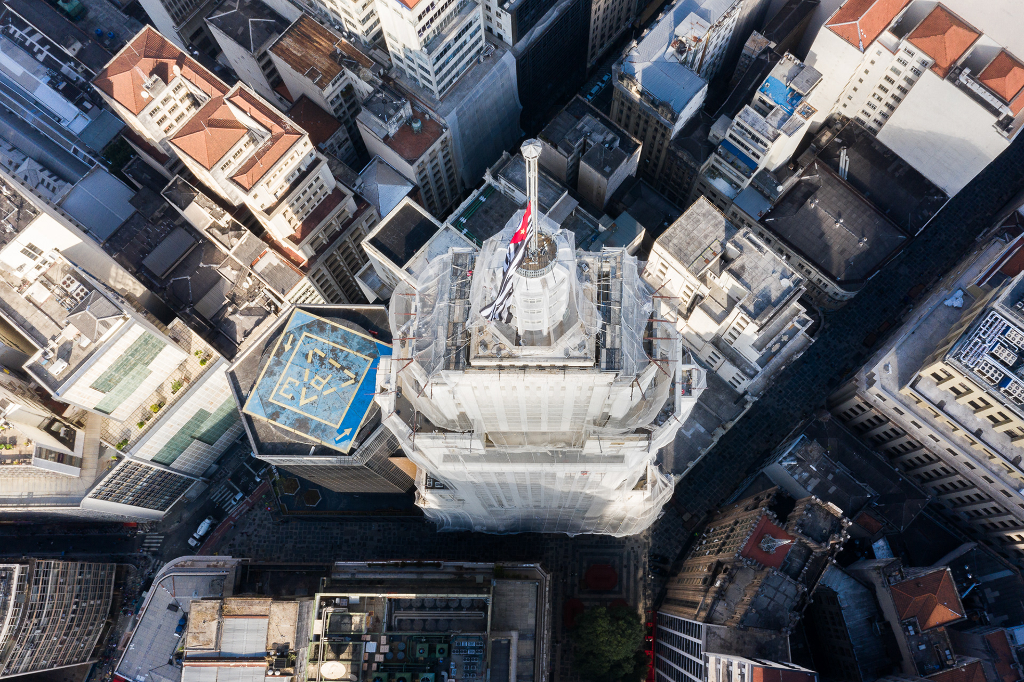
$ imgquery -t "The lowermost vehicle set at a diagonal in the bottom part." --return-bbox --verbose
[185,513,213,545]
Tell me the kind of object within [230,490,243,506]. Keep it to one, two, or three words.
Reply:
vehicle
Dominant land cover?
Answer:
buildings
